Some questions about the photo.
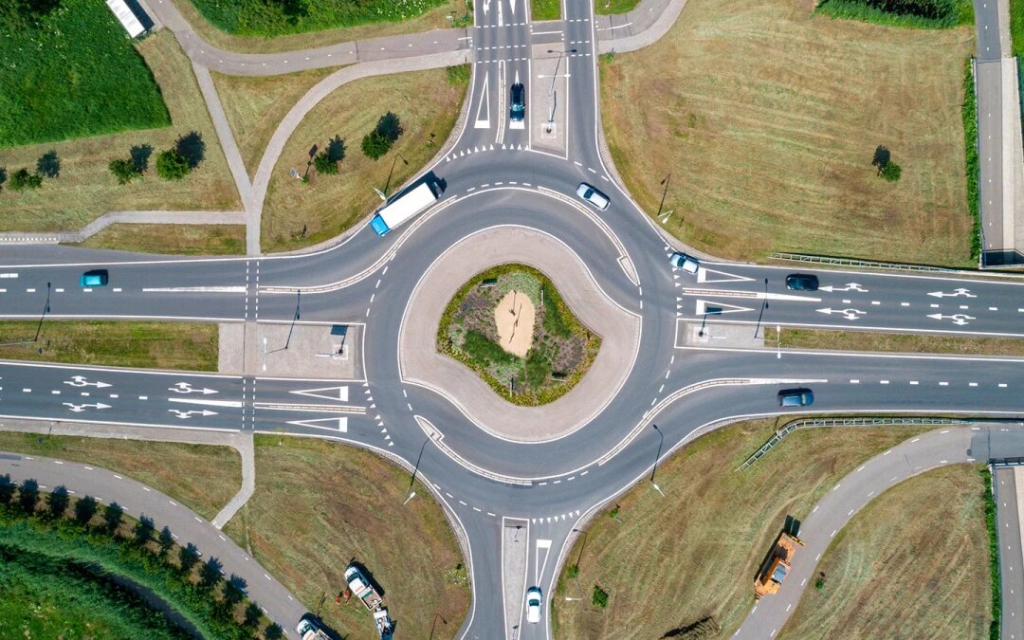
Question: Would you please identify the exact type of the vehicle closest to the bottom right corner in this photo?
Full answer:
It turns out the vehicle closest to the bottom right corner is a truck.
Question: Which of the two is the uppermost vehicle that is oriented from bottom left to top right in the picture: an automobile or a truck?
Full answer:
It turns out the uppermost vehicle that is oriented from bottom left to top right is a truck.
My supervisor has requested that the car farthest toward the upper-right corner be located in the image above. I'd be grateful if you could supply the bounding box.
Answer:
[785,276,817,291]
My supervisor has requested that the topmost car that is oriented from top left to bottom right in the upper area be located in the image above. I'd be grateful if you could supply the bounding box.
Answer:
[576,185,609,210]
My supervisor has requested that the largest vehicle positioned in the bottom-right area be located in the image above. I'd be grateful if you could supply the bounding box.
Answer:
[759,534,811,603]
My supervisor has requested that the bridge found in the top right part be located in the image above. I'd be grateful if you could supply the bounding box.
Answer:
[974,57,1024,268]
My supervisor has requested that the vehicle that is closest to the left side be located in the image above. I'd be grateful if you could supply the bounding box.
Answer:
[80,273,108,287]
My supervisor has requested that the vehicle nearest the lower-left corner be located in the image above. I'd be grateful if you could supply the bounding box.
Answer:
[299,619,325,640]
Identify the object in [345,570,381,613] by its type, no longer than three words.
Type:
truck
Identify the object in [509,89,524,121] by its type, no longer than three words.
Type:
car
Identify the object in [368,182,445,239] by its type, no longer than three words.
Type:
truck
